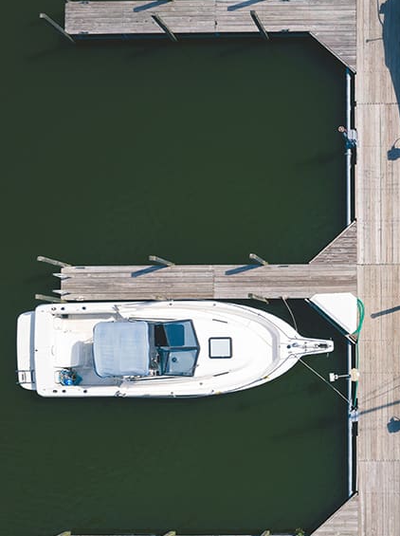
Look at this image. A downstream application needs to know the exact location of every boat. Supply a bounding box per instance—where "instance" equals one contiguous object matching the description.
[16,300,334,399]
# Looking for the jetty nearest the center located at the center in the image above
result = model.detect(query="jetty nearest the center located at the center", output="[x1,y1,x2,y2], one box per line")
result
[60,221,357,302]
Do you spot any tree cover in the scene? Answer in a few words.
No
